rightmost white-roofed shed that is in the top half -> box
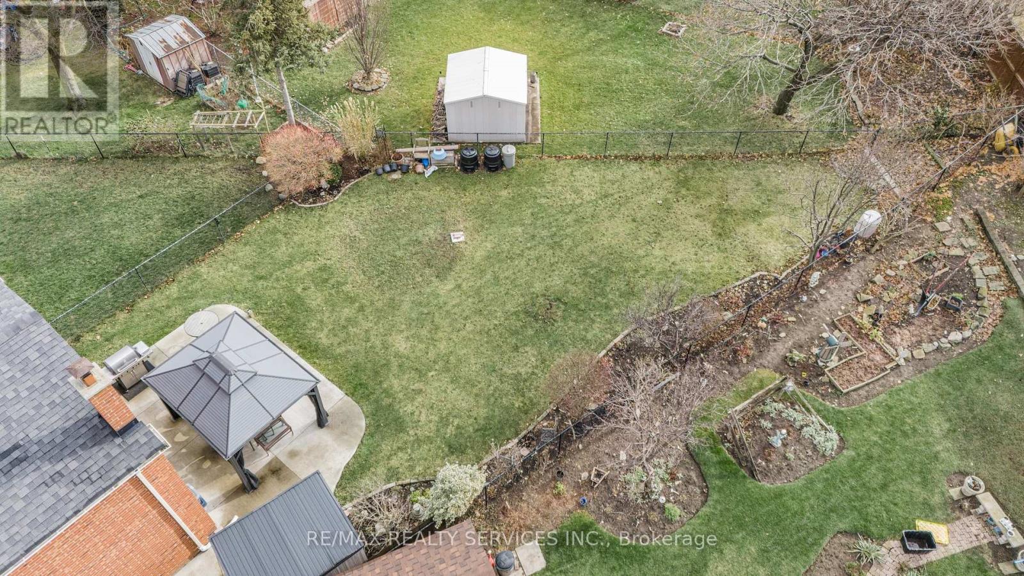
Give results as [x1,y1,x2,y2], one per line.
[443,43,529,141]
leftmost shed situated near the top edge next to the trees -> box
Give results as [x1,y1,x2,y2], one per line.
[126,16,208,93]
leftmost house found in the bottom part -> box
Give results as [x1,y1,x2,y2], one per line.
[0,283,245,576]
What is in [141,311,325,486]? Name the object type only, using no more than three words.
gazebo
